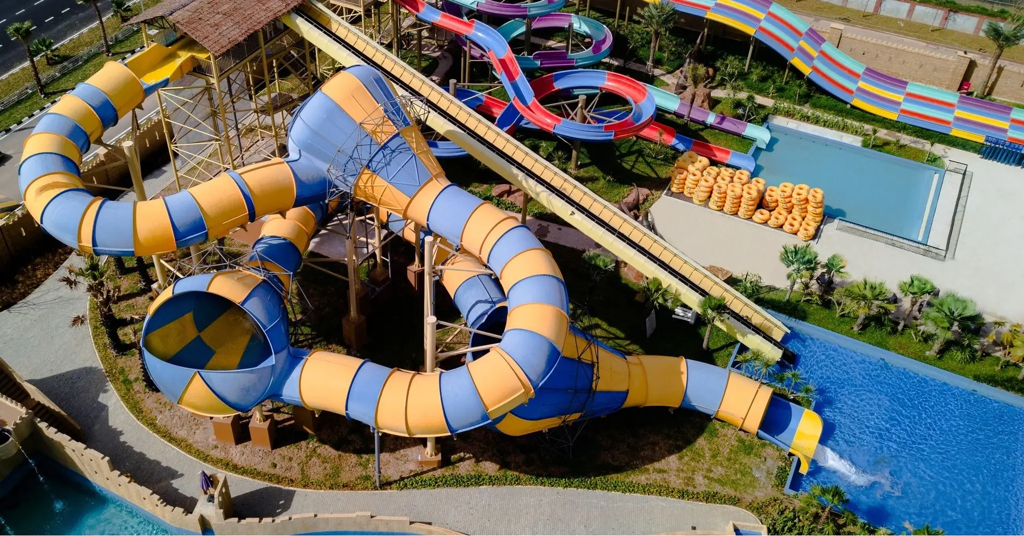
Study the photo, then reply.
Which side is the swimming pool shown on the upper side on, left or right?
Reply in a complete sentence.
You can find the swimming pool shown on the upper side on the right side of the picture.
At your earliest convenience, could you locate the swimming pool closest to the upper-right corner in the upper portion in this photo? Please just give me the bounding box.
[752,123,934,243]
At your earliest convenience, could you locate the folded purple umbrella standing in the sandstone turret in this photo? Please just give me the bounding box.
[196,470,214,499]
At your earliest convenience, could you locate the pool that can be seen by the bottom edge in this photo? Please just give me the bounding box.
[735,330,1024,536]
